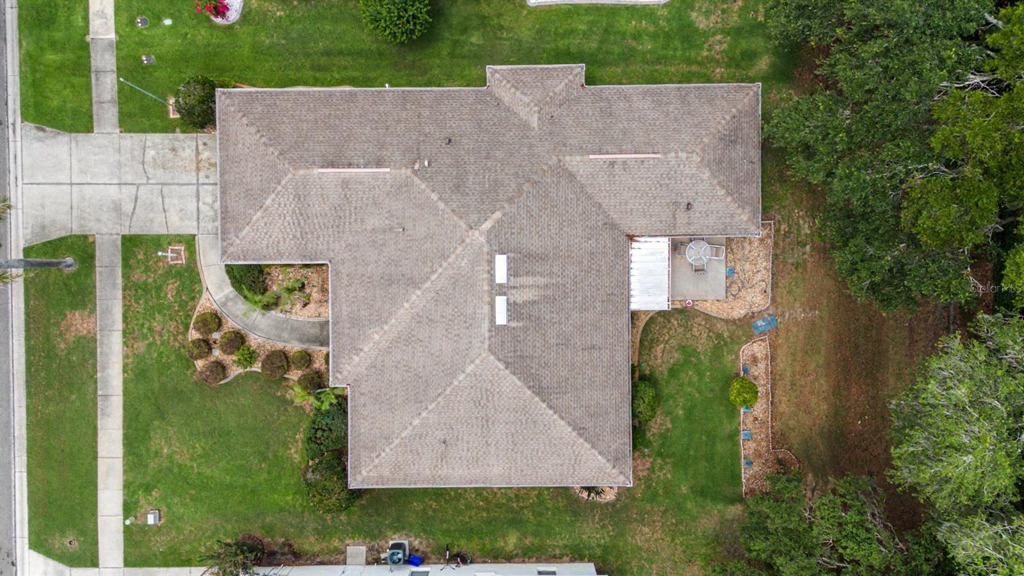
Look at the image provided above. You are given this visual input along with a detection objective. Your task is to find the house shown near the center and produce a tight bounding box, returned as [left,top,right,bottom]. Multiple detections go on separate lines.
[216,64,763,490]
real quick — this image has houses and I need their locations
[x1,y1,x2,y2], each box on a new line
[211,562,596,576]
[216,64,763,490]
